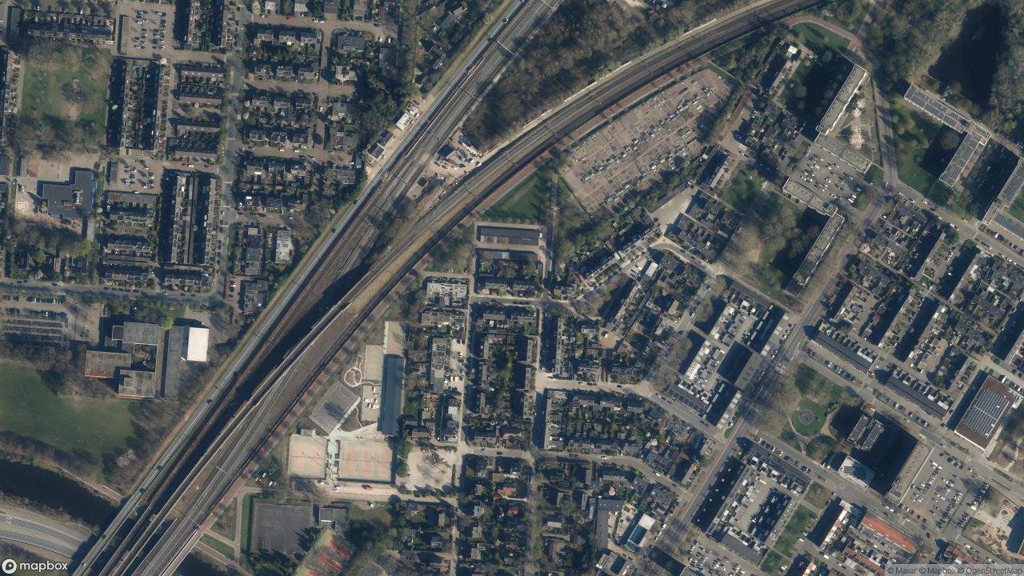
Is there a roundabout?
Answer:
No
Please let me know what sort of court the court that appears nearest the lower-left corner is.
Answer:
basketball court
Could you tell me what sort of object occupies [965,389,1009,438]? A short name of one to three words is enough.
solar array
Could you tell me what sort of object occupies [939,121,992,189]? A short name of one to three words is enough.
building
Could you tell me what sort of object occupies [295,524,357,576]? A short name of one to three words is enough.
tennis court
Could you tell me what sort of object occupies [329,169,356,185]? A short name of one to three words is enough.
house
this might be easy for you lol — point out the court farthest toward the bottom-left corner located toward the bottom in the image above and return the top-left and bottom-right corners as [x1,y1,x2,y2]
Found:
[250,504,312,553]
